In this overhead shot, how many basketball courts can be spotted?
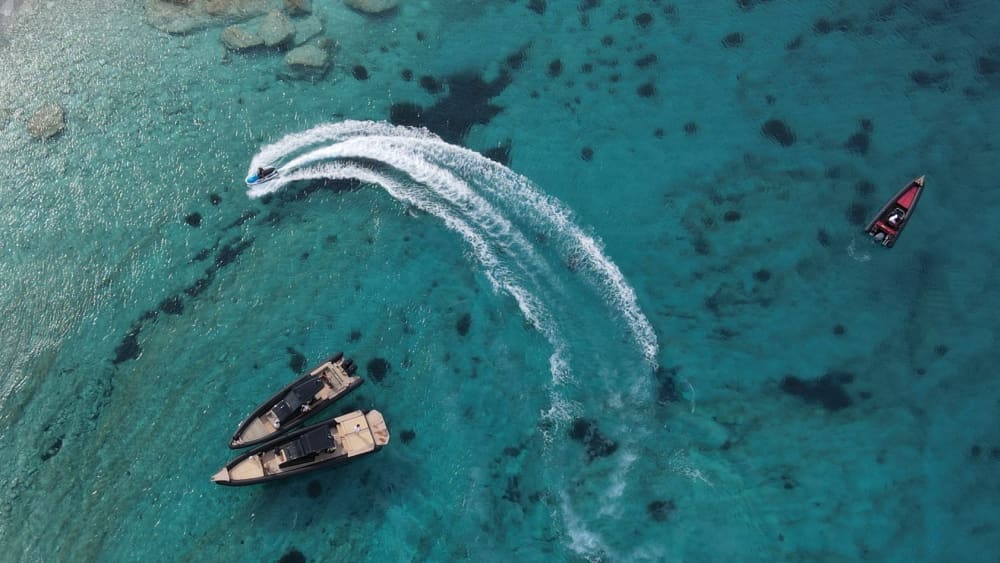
0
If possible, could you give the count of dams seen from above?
0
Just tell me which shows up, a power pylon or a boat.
boat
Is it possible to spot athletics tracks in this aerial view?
No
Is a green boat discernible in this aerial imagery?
No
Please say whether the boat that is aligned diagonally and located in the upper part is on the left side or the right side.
right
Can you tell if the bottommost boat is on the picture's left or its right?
left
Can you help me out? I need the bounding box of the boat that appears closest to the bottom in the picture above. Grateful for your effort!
[209,409,390,484]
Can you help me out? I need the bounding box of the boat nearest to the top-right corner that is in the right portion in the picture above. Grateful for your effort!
[863,175,927,251]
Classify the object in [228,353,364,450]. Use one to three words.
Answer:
boat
